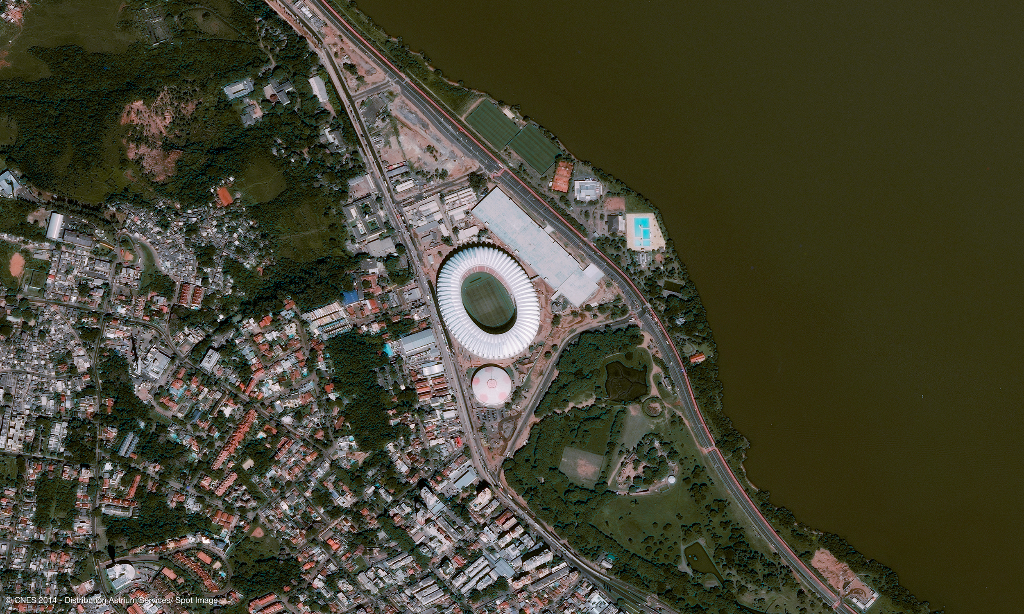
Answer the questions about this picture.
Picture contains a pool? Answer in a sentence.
Yes, a pool appears in the view.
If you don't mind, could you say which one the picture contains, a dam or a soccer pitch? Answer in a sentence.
Looking from above, you can make out a soccer pitch.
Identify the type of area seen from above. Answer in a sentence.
The picture captures a residential area.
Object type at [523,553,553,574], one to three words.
building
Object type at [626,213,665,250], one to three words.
swimming pool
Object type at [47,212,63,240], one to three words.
building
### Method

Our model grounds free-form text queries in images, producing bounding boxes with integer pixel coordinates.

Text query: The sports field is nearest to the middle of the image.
[465,276,511,327]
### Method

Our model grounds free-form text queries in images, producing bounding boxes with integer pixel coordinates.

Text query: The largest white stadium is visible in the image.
[437,248,540,359]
